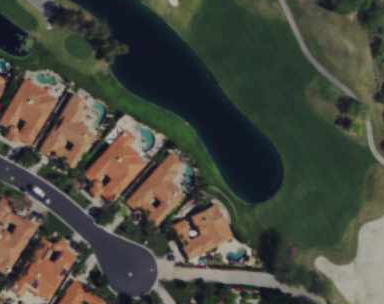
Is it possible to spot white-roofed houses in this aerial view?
No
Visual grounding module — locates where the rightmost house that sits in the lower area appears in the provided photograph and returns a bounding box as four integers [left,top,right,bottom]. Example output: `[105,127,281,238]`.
[174,203,235,260]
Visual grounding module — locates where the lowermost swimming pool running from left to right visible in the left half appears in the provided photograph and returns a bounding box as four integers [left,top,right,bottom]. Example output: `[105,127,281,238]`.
[36,72,60,86]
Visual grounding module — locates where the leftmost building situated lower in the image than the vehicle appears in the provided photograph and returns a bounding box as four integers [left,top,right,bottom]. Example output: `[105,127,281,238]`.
[0,196,38,274]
